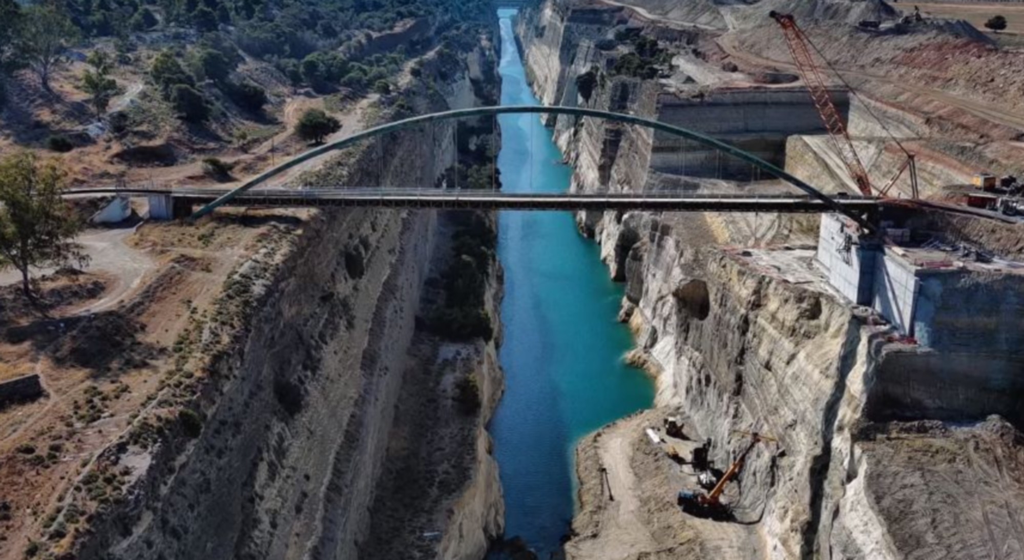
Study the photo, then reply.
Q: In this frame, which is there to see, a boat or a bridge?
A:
bridge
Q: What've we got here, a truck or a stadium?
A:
truck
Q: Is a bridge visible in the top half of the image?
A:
Yes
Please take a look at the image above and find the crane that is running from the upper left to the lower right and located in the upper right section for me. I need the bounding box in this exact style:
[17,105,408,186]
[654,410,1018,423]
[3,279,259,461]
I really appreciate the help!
[769,10,919,187]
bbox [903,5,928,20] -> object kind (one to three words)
work vehicle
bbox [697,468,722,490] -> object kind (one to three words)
truck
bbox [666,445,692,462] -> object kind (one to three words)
work vehicle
